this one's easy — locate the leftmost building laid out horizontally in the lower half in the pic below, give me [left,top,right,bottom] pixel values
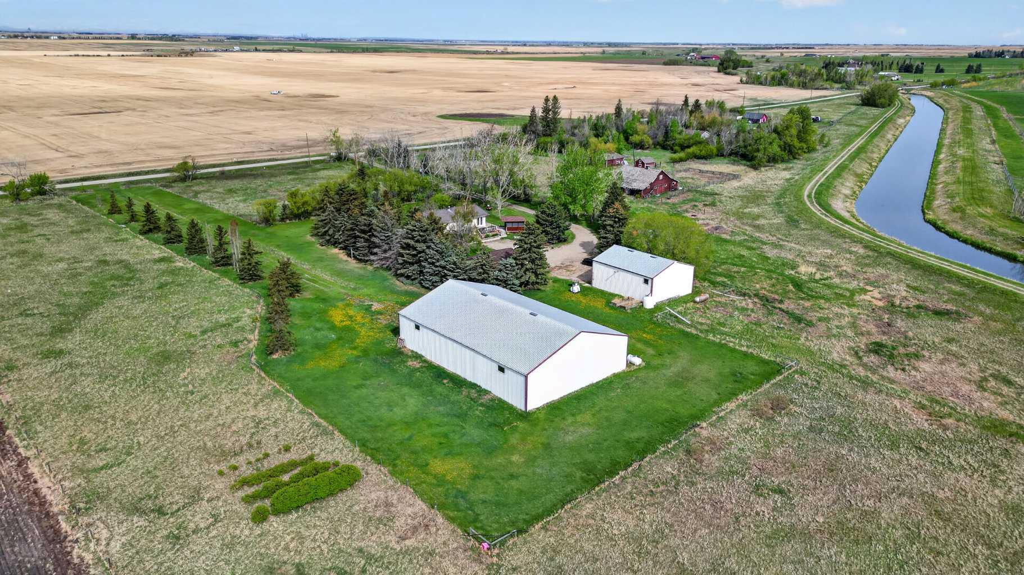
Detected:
[398,279,631,412]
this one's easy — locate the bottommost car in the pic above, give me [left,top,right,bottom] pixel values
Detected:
[572,268,592,282]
